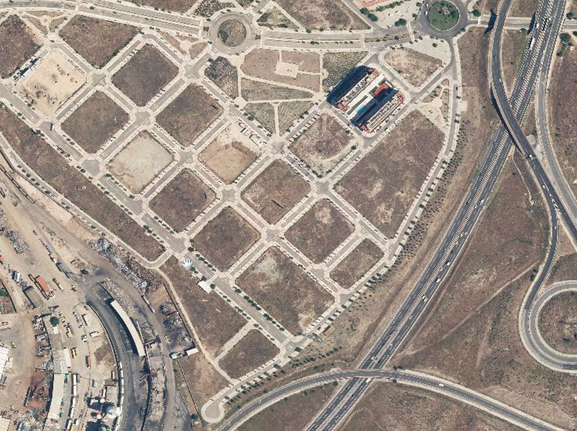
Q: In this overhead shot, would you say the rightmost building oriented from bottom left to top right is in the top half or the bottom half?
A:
top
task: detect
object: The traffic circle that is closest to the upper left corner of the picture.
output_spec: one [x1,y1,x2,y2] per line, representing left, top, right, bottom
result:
[209,10,255,56]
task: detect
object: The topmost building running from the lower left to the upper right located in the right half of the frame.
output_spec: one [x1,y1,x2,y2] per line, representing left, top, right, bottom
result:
[336,70,379,113]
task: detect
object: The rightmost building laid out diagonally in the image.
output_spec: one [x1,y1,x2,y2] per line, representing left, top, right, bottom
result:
[361,94,405,137]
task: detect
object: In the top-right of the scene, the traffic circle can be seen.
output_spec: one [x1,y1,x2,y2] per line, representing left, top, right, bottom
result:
[420,0,467,39]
